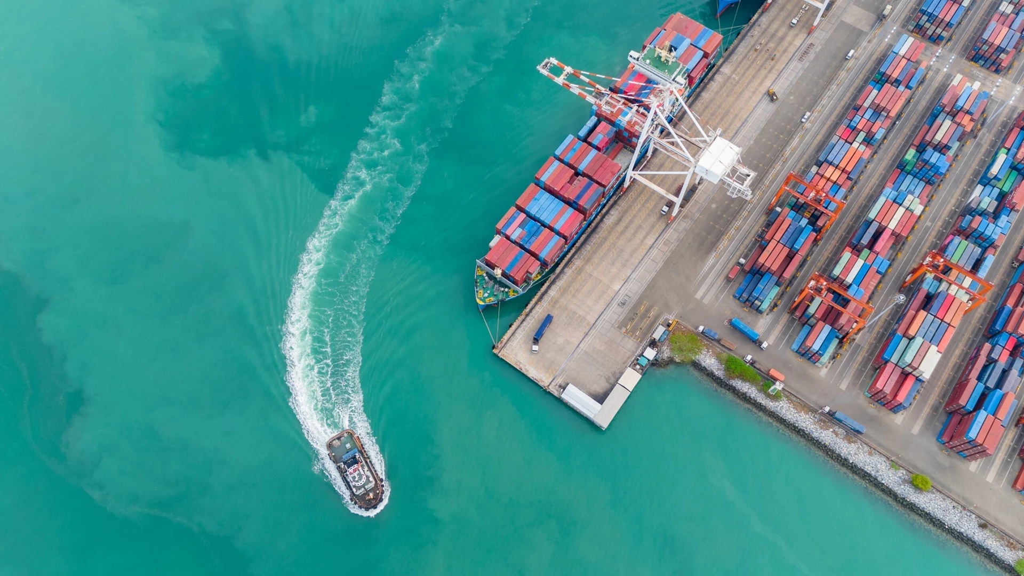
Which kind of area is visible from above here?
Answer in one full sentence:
This looks like a port.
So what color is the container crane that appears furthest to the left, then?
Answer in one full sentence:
In this view, the container crane that appears furthest to the left is white.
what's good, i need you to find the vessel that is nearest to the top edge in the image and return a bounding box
[714,0,749,20]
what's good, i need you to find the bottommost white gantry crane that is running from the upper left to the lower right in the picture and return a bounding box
[535,53,761,229]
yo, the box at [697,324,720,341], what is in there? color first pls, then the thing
blue vehicle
